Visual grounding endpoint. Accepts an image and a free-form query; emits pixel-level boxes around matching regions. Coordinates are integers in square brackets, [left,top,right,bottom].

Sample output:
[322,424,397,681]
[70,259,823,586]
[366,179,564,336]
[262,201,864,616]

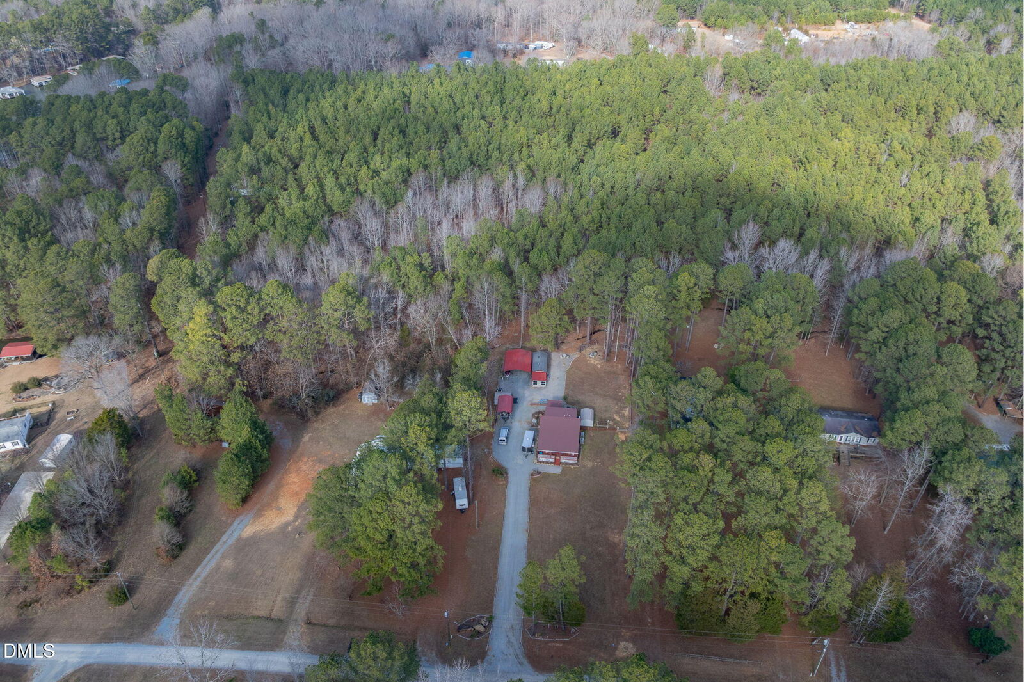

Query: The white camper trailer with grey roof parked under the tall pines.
[450,476,469,515]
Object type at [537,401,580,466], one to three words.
house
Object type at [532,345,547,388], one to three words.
shed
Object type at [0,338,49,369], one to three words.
building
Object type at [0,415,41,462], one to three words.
house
